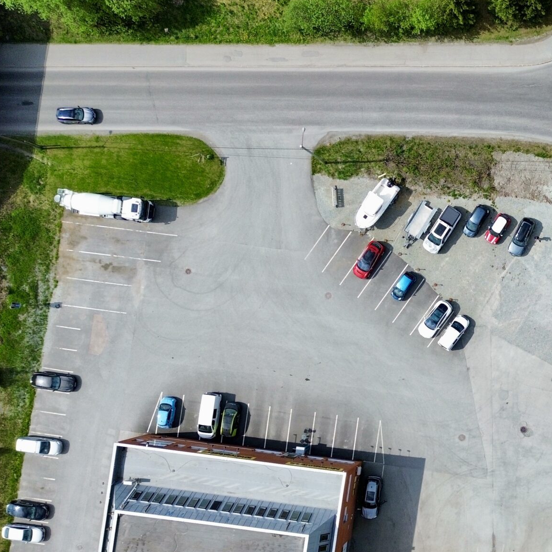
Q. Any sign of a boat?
Yes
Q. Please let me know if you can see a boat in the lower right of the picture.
No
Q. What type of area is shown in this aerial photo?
parking lot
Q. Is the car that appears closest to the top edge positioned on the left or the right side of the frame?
left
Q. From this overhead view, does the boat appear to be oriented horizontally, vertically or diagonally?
diagonally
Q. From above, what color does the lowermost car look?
white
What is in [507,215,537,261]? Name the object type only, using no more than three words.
car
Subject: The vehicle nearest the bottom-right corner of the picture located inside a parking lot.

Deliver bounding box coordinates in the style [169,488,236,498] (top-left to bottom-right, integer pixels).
[359,477,382,520]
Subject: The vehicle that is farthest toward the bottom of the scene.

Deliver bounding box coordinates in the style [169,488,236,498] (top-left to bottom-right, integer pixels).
[1,522,48,545]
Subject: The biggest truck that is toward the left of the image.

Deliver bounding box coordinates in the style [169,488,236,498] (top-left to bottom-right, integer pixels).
[51,187,155,225]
